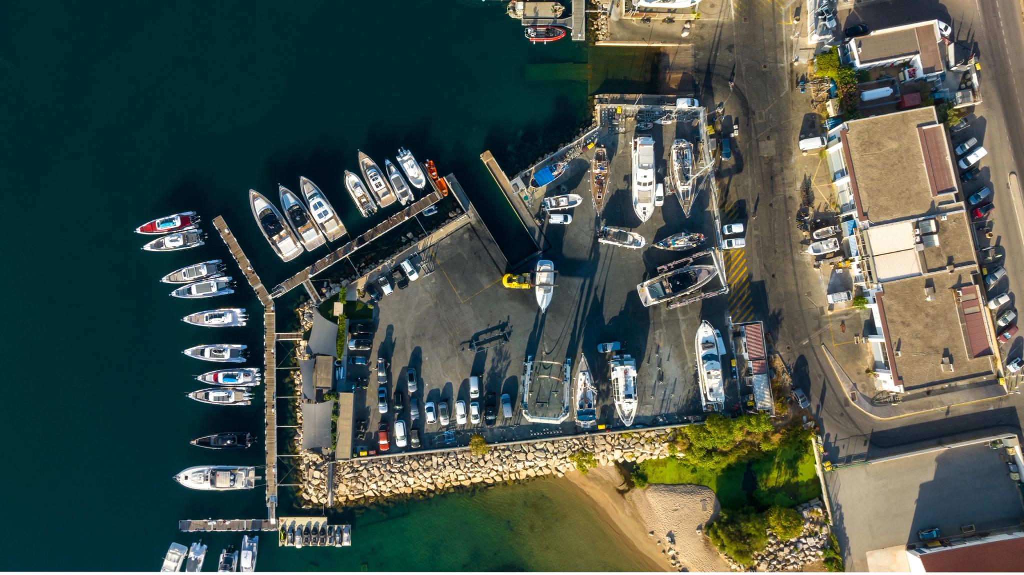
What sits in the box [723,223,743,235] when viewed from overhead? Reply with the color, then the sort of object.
white vehicle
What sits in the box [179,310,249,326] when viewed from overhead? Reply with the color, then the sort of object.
white boat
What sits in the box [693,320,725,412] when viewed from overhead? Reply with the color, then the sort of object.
white boat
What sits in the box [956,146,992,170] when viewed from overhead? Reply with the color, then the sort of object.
white vehicle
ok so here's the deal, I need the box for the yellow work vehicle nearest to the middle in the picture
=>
[503,272,558,289]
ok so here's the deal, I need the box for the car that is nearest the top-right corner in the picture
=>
[936,20,953,39]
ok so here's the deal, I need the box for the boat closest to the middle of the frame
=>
[535,260,554,315]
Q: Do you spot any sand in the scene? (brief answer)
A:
Yes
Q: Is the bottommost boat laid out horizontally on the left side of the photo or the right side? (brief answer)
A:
left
